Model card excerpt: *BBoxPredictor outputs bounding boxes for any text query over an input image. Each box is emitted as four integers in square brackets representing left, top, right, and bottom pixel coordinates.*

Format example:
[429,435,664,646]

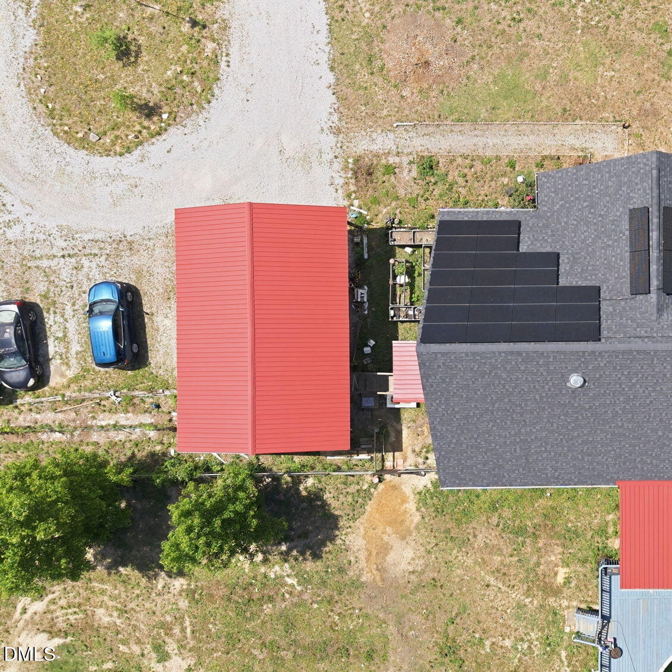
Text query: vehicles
[83,277,143,372]
[0,301,46,391]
